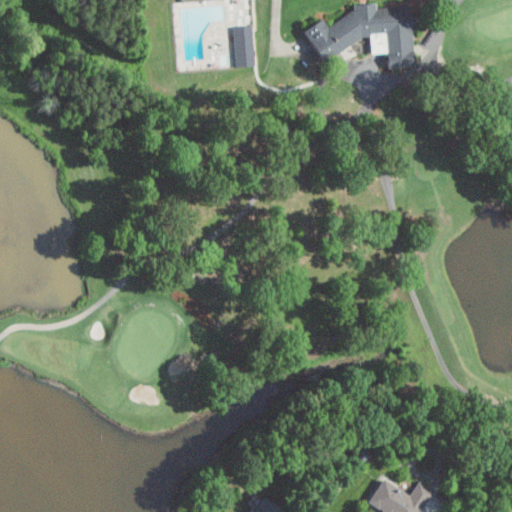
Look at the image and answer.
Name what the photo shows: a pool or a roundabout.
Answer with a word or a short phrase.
pool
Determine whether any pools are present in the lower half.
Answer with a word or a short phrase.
No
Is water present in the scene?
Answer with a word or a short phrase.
Yes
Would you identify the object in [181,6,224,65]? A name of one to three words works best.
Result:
swimming pool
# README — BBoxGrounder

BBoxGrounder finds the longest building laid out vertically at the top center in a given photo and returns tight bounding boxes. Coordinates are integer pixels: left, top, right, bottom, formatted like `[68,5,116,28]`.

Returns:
[234,26,254,68]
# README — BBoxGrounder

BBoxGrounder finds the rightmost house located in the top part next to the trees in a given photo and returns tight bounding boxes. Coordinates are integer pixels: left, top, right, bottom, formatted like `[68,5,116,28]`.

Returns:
[304,3,415,67]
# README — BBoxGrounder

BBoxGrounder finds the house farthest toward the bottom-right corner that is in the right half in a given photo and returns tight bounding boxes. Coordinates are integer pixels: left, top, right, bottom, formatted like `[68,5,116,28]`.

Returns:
[370,483,432,512]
